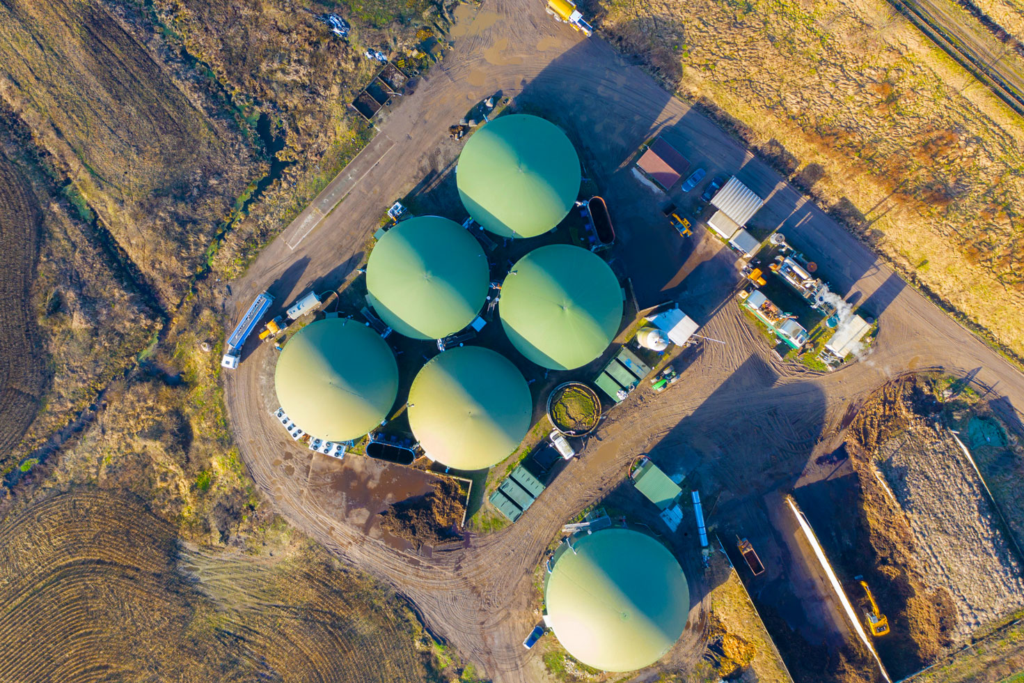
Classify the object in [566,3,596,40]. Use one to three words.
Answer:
work vehicle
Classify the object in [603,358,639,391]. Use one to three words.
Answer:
shipping container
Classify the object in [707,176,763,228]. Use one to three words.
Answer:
shed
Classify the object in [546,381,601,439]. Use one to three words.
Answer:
storage tank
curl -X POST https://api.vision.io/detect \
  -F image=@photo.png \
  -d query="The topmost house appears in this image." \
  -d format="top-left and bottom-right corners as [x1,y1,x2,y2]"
[636,137,691,192]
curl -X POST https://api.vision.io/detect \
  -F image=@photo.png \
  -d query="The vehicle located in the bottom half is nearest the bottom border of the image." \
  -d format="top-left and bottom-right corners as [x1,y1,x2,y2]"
[523,623,544,648]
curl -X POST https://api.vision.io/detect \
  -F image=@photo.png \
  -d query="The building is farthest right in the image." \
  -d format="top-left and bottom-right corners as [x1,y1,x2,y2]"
[822,314,870,359]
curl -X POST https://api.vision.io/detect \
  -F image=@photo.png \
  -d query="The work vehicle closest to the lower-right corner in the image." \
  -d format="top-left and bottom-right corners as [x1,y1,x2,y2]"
[855,578,890,637]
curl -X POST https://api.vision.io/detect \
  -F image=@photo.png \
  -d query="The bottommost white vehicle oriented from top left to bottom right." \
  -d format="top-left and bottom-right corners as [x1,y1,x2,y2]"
[547,429,576,461]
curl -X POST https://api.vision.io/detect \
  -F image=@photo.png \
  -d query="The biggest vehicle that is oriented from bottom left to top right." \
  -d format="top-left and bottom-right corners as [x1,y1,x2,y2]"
[218,292,279,364]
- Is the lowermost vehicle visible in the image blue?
Yes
